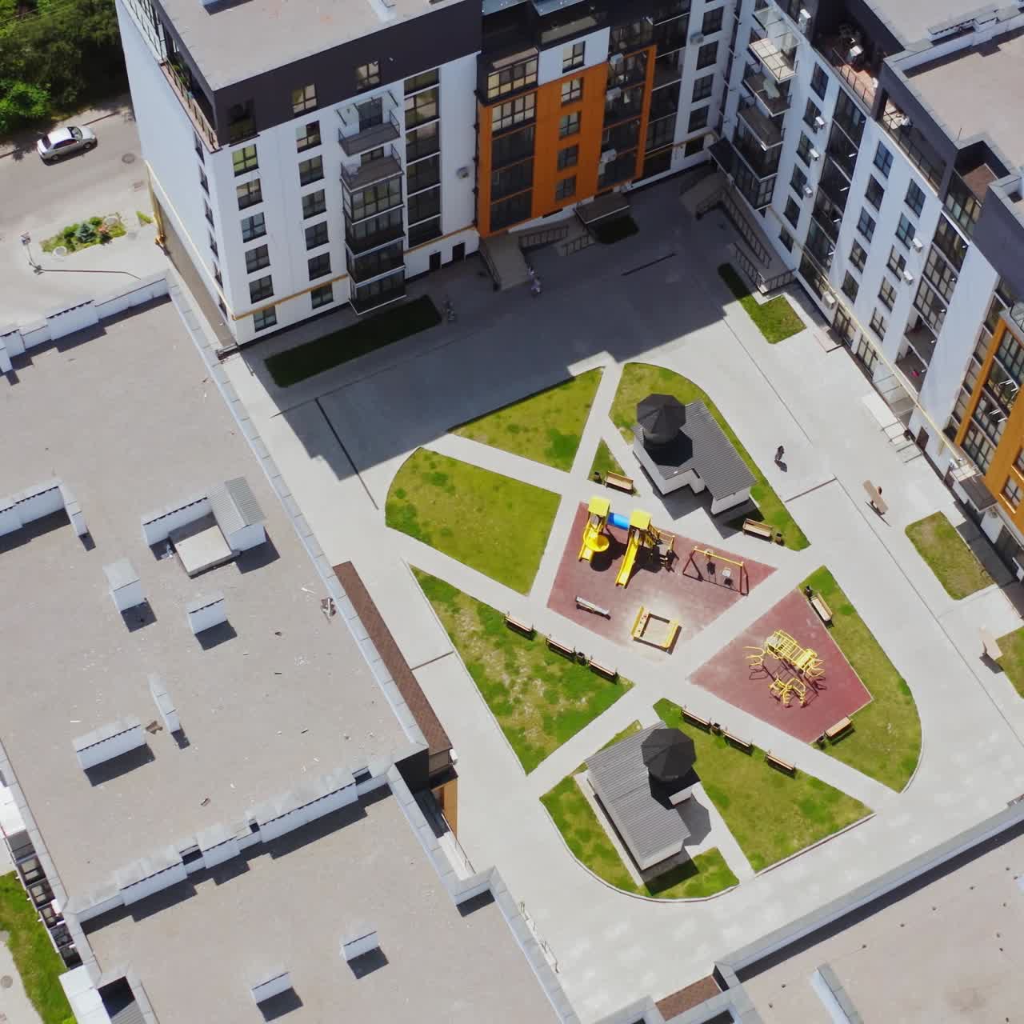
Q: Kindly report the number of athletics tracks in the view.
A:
0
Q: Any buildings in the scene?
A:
Yes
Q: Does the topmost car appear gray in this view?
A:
Yes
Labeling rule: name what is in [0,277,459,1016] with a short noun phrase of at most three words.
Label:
building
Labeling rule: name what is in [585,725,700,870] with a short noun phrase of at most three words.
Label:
shed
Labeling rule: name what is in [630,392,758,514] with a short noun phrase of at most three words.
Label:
shed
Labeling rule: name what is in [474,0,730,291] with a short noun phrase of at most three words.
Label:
building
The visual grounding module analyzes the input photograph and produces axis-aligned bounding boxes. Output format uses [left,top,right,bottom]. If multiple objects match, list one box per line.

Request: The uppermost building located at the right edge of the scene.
[685,0,1024,587]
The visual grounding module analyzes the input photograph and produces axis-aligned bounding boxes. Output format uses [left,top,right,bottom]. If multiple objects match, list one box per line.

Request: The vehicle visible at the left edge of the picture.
[34,123,96,161]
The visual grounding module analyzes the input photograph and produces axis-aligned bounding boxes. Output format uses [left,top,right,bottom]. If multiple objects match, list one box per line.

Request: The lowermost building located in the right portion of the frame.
[596,799,1024,1024]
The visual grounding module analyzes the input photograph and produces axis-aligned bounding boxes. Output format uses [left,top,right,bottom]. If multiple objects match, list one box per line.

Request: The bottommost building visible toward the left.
[63,758,582,1024]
